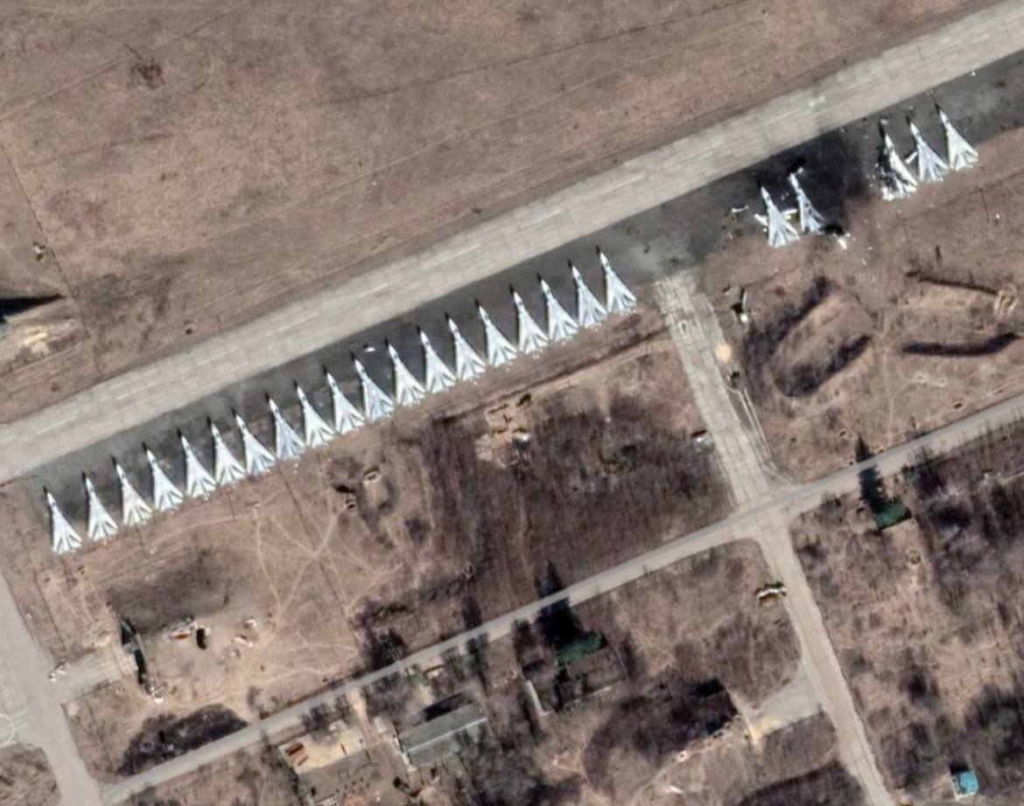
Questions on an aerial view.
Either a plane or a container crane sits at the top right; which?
plane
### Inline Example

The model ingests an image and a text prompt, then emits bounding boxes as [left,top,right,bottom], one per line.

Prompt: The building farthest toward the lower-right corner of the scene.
[948,768,976,794]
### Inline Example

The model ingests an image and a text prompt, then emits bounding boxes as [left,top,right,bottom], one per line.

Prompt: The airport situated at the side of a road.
[0,0,1024,560]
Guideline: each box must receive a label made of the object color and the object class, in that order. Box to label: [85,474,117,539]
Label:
white airplane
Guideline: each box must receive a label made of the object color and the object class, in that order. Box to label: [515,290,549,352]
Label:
white airplane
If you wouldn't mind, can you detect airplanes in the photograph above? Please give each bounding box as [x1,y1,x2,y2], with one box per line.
[791,173,827,232]
[886,135,917,192]
[421,327,456,391]
[762,184,797,246]
[212,425,245,485]
[390,344,426,404]
[237,415,275,474]
[327,369,365,432]
[575,267,608,326]
[148,451,183,510]
[46,490,80,553]
[542,277,579,339]
[601,250,636,313]
[85,474,117,539]
[940,112,977,170]
[356,358,394,418]
[299,387,335,447]
[450,317,486,378]
[117,465,151,525]
[271,399,305,459]
[911,124,948,182]
[515,290,549,352]
[481,307,517,366]
[182,435,215,497]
